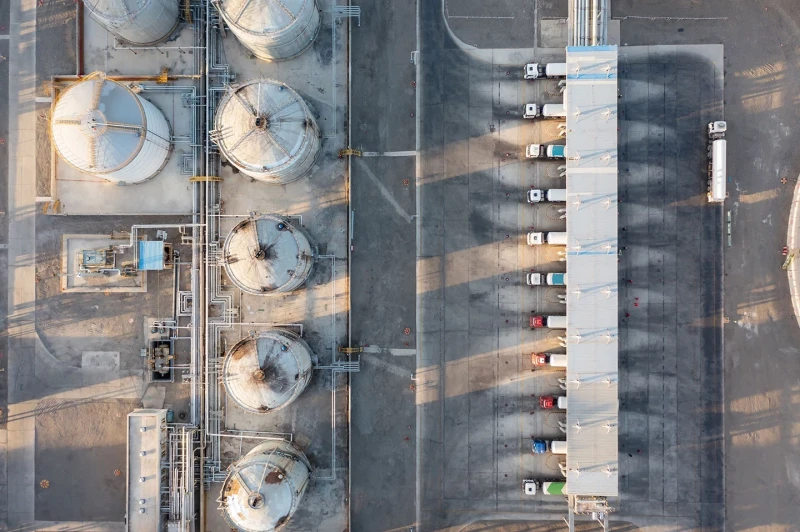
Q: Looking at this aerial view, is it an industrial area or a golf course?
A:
industrial area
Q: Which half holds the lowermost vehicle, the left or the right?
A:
right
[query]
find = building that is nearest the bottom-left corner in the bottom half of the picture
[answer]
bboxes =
[128,408,174,532]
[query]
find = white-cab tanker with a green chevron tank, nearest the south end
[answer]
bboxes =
[521,477,565,497]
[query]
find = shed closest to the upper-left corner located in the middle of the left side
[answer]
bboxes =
[140,241,177,270]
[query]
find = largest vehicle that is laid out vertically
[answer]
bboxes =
[703,122,724,201]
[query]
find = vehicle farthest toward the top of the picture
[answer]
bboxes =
[522,62,565,81]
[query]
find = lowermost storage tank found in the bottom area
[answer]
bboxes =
[217,437,309,532]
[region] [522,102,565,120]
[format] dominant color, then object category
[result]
white vehicle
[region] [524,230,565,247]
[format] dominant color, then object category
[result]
white vehicle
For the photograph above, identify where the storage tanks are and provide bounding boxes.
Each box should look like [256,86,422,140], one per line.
[210,77,320,184]
[48,73,174,184]
[220,0,321,58]
[217,437,309,532]
[218,214,314,295]
[219,327,312,414]
[79,0,184,47]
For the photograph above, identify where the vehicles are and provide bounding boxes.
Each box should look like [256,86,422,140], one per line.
[524,271,565,287]
[703,122,724,201]
[522,102,565,120]
[524,230,565,247]
[527,313,565,330]
[538,394,565,411]
[530,437,565,455]
[523,142,565,159]
[521,477,565,497]
[522,62,565,81]
[530,352,565,369]
[525,187,565,204]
